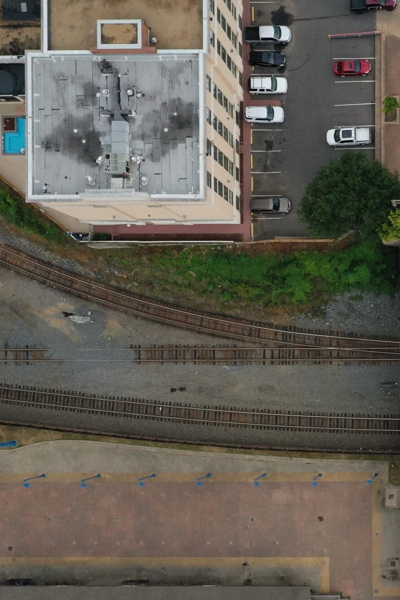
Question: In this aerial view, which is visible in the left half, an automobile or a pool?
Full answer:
The feature located in the left half is a pool.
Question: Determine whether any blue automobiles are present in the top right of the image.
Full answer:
No, I see no blue automobile in the top right of the image.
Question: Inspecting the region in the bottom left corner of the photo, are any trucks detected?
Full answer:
No, there's no truck to be seen in the bottom left corner of the photo.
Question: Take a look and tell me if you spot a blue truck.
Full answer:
No, there's no blue truck here.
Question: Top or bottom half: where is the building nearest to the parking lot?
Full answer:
The building nearest to the parking lot sits in the top half of the picture.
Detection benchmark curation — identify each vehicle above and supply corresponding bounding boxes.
[245,104,286,124]
[251,196,292,215]
[326,125,372,146]
[333,58,372,77]
[246,23,293,45]
[248,50,287,69]
[349,0,396,16]
[248,75,288,95]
